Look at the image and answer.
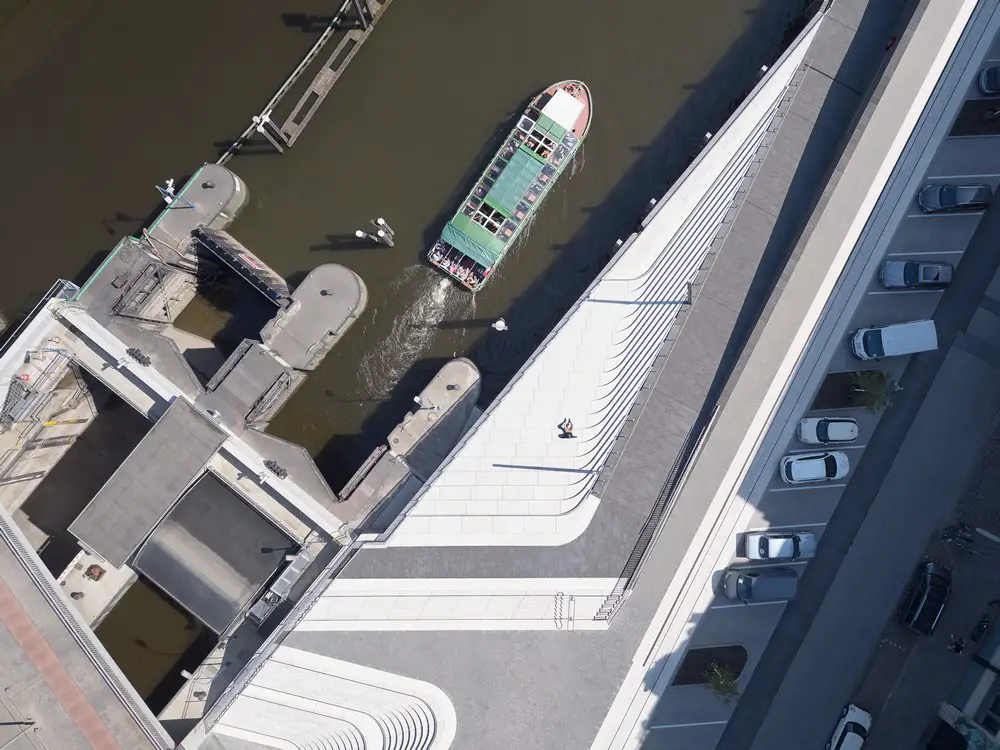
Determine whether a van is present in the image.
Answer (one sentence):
Yes, I can see a van in this picture.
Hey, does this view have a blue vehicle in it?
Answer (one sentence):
Yes, there's a blue vehicle down there.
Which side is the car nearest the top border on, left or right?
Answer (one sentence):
The car nearest the top border sits on the right side.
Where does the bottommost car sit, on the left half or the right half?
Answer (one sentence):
It is on the right.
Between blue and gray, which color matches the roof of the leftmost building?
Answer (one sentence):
The roof of the leftmost building looks gray in the image.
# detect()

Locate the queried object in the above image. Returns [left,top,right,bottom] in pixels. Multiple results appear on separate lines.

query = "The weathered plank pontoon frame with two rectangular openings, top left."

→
[281,24,376,150]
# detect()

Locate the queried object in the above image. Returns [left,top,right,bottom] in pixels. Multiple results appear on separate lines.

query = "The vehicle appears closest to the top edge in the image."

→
[976,67,1000,97]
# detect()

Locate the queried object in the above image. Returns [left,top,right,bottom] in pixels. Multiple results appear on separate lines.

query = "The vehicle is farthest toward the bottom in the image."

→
[819,703,869,750]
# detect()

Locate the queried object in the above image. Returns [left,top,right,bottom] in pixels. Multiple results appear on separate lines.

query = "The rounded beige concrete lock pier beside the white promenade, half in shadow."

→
[388,357,481,471]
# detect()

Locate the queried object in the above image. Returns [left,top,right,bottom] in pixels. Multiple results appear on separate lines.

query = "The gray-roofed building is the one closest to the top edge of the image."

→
[66,396,234,568]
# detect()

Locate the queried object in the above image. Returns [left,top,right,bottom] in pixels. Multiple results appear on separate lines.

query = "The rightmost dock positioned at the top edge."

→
[361,0,399,31]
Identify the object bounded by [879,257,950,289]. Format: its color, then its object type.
blue car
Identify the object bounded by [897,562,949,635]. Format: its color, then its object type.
black car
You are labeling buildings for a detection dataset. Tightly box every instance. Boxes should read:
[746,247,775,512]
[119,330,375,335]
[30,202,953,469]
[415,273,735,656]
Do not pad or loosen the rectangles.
[898,615,1000,750]
[66,396,234,568]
